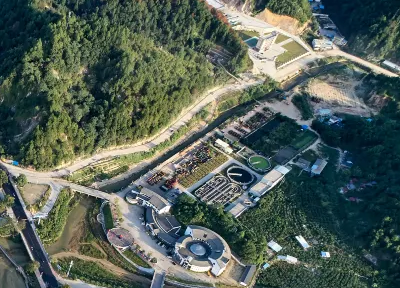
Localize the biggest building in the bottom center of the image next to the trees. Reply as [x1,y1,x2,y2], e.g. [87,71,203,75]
[173,226,233,274]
